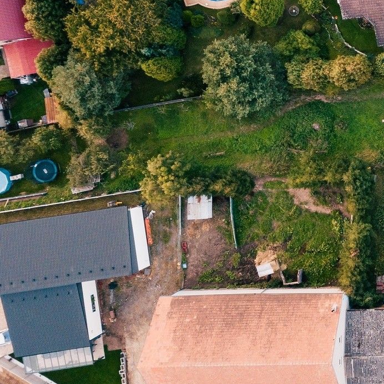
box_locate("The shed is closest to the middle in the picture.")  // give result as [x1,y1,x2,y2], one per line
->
[187,194,217,220]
